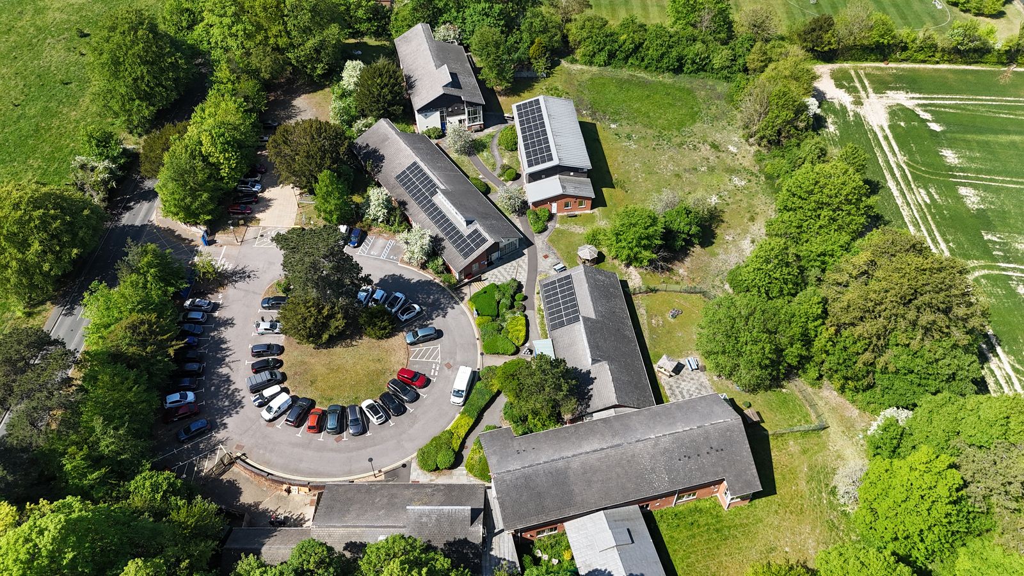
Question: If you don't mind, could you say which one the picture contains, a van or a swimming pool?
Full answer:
Looking from above, you can make out a van.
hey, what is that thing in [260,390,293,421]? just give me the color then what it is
white van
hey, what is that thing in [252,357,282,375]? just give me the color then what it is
black car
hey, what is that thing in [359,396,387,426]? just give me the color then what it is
white car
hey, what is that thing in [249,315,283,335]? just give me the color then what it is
white car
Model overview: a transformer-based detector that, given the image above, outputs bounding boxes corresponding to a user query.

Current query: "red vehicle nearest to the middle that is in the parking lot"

[396,365,428,388]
